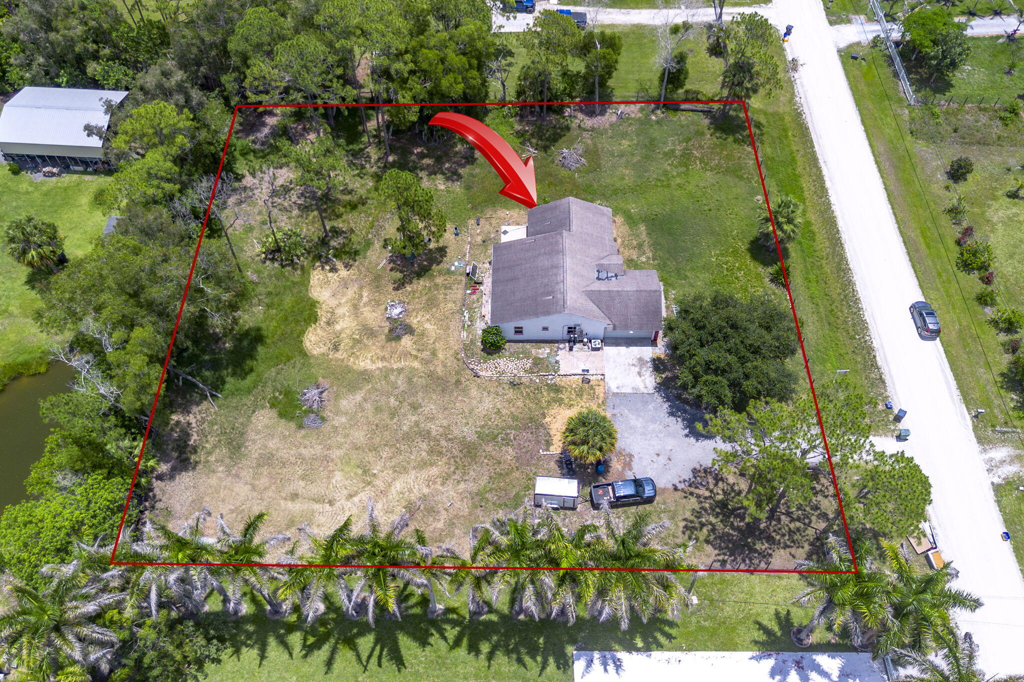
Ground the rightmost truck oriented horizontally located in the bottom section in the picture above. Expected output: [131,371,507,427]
[588,477,657,509]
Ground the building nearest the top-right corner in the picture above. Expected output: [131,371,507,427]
[490,196,662,340]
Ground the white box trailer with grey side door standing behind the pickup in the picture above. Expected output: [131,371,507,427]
[535,476,589,508]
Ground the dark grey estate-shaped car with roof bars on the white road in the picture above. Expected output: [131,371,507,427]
[909,298,940,335]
